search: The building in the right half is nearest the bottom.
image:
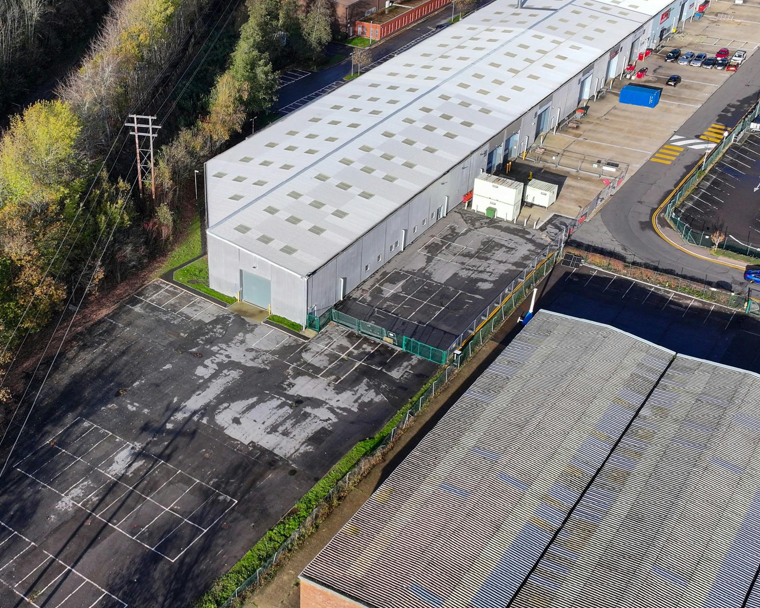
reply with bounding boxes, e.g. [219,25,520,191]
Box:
[291,306,760,608]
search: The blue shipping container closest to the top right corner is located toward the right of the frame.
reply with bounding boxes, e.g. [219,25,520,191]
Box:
[621,84,659,109]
